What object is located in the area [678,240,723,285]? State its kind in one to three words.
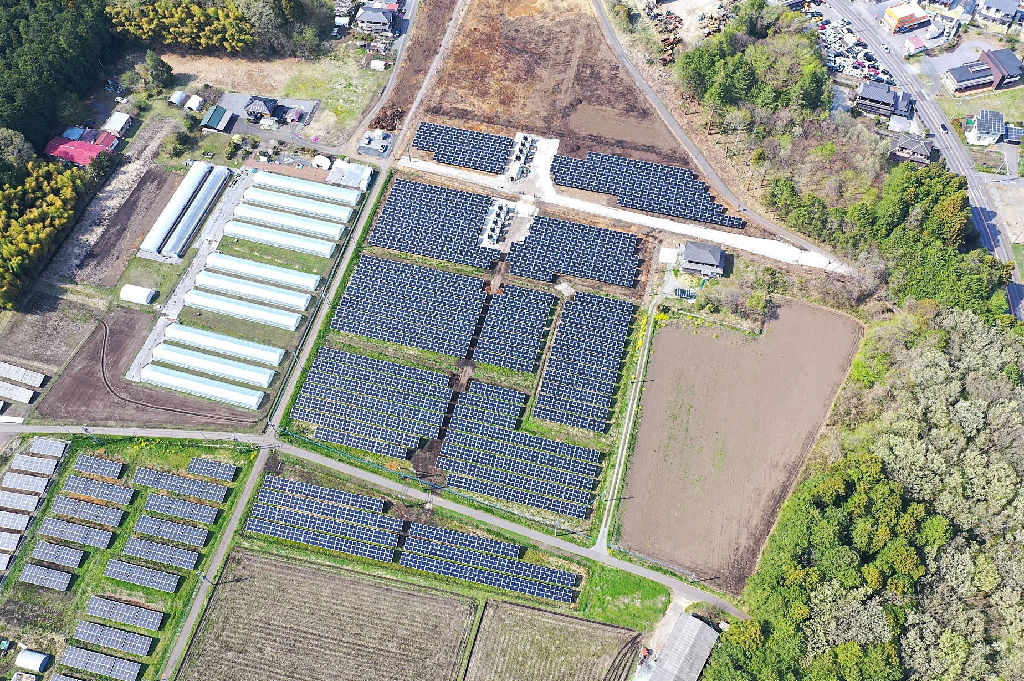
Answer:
house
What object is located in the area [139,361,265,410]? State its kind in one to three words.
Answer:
greenhouse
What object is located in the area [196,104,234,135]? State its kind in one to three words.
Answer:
barn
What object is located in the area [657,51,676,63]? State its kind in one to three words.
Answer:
vehicle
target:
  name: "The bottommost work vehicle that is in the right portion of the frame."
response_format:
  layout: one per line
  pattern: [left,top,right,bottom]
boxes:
[638,642,650,664]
